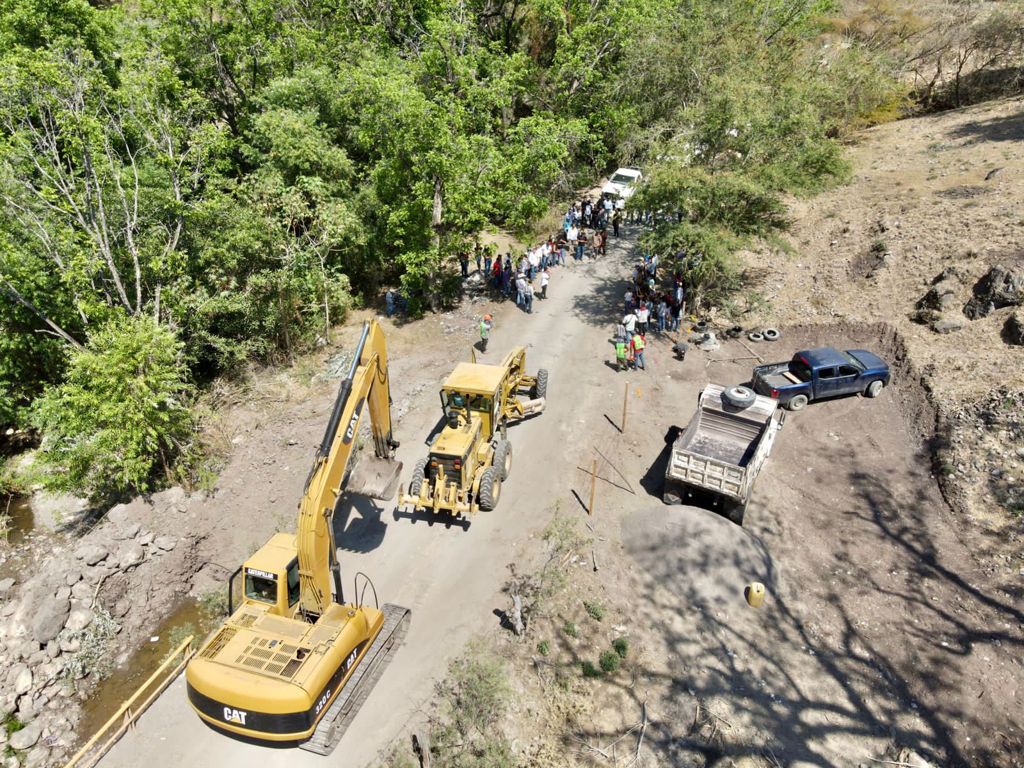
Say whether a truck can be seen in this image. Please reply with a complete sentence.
Yes, there is a truck in the image.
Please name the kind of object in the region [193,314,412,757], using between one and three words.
work vehicle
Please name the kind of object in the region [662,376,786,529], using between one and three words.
truck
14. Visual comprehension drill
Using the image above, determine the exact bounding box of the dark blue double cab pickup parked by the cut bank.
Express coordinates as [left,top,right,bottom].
[747,344,897,409]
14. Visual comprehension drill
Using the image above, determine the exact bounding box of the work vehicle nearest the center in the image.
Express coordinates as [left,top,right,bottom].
[406,344,551,531]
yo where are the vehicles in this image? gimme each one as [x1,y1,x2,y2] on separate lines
[406,344,551,531]
[603,162,649,206]
[662,376,786,529]
[193,314,412,757]
[747,344,897,409]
